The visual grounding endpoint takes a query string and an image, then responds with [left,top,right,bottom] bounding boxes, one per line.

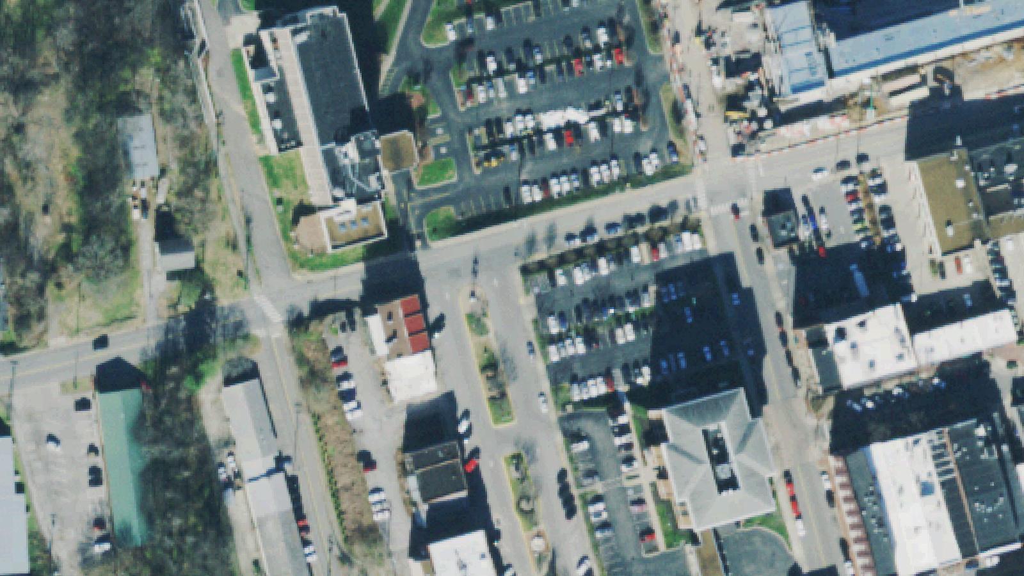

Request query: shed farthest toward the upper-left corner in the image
[118,115,158,179]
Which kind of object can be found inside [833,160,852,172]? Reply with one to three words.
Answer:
vehicle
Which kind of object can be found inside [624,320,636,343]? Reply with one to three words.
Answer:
vehicle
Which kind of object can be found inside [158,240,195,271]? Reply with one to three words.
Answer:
house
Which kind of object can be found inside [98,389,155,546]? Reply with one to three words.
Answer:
building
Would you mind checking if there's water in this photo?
No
